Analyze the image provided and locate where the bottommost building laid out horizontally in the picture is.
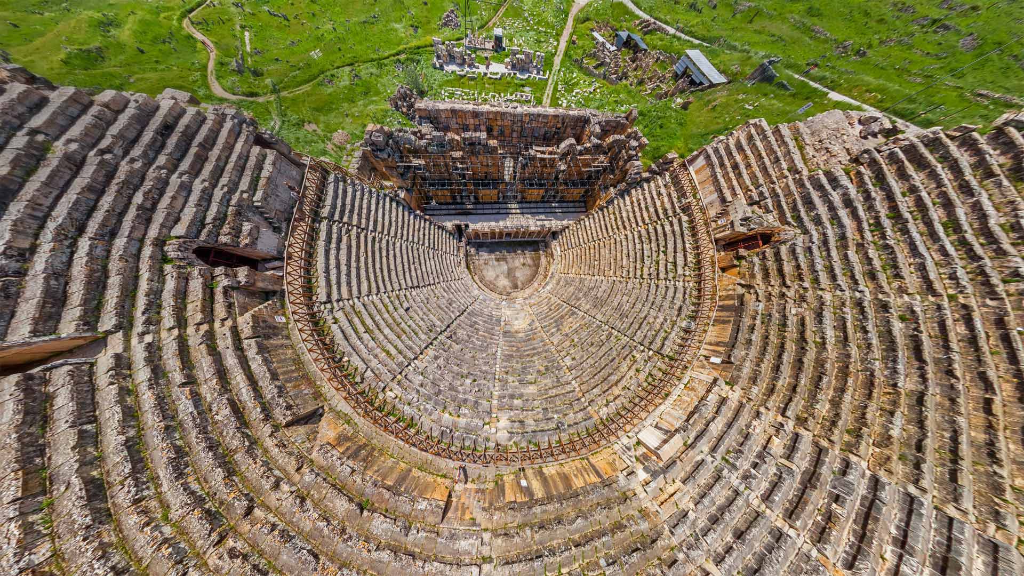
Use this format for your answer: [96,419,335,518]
[349,96,643,243]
